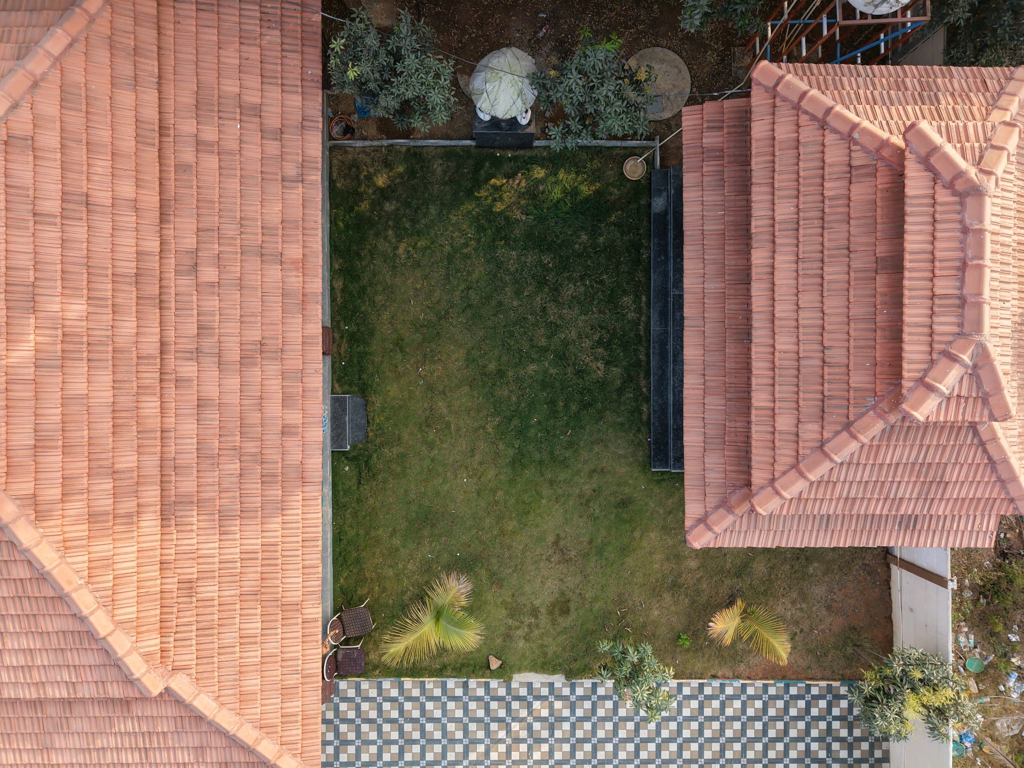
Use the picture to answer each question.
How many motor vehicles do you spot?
0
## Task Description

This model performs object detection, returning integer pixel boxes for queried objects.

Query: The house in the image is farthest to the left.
[0,0,324,768]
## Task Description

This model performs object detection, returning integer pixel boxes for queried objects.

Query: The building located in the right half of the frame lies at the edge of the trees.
[674,50,1024,559]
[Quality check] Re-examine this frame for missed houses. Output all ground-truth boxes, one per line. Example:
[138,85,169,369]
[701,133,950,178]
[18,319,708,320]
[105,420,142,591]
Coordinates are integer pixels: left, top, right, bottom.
[674,50,1024,559]
[0,0,324,768]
